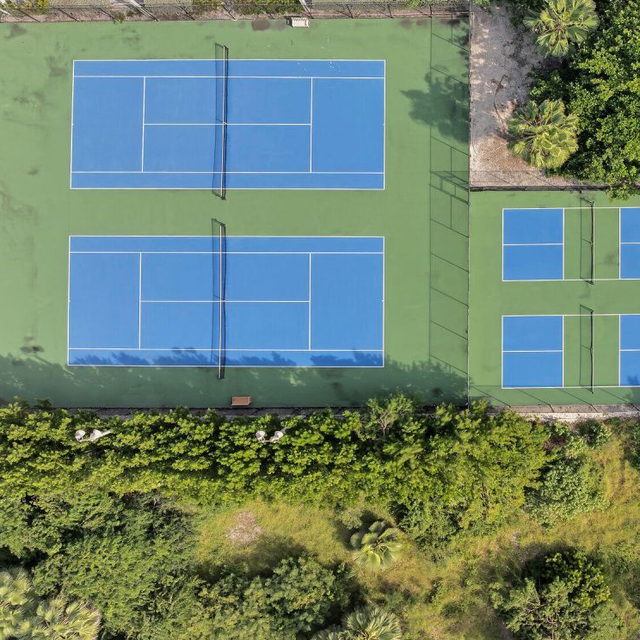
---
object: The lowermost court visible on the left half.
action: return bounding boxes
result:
[67,236,384,367]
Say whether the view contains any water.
No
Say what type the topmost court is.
tennis court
